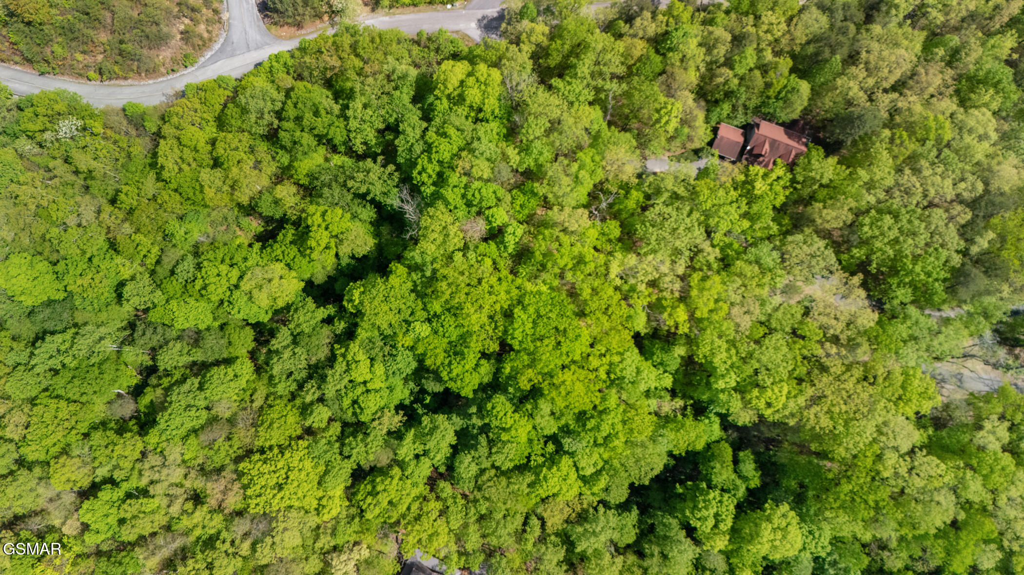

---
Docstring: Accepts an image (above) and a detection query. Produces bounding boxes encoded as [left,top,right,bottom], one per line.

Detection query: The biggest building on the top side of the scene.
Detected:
[739,112,812,177]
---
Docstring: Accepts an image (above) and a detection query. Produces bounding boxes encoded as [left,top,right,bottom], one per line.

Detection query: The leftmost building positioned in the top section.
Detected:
[712,123,745,158]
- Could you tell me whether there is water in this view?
No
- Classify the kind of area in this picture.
forest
